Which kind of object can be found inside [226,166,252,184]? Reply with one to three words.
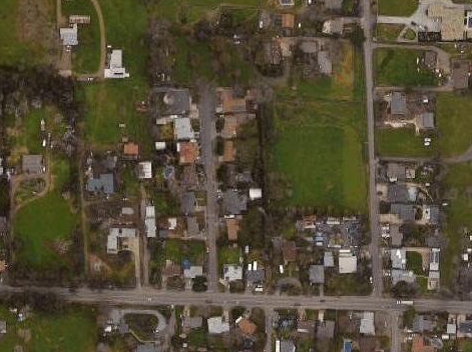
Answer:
house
